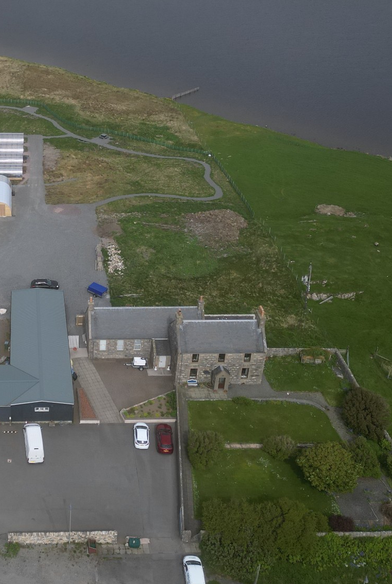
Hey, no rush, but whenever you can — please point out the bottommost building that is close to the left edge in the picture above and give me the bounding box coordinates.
[0,284,74,423]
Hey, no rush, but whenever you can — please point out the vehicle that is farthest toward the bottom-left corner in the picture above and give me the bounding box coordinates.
[24,427,44,463]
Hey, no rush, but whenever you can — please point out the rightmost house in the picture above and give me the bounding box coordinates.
[172,305,269,394]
